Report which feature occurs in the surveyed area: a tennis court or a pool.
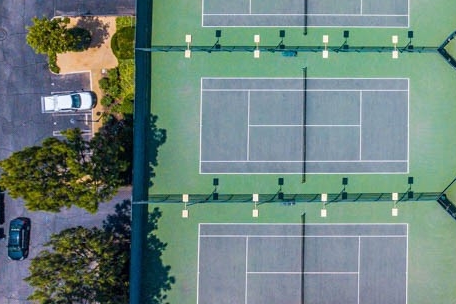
tennis court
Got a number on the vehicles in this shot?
2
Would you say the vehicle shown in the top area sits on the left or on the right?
left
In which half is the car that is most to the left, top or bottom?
bottom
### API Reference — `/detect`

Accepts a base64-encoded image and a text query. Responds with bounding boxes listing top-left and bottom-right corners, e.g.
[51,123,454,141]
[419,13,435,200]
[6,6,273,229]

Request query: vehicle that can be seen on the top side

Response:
[41,91,96,113]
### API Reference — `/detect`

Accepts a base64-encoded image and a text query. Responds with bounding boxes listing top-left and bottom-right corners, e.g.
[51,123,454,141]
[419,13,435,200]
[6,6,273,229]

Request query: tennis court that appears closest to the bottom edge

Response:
[140,201,456,304]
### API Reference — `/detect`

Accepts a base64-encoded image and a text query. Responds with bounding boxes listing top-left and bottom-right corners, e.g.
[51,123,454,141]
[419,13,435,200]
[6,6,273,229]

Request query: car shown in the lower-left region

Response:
[4,216,29,260]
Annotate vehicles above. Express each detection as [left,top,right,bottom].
[41,91,96,113]
[4,216,29,260]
